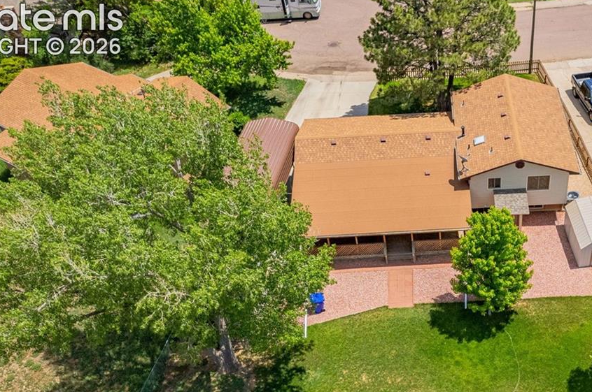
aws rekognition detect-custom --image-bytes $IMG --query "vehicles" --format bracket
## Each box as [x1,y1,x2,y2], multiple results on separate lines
[572,72,592,117]
[246,0,327,20]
